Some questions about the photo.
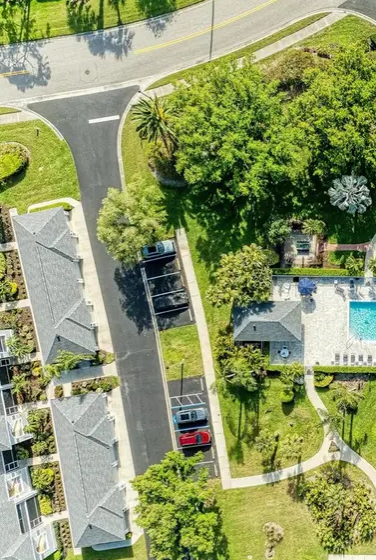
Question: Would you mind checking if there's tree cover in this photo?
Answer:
Yes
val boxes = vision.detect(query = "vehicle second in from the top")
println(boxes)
[155,295,189,312]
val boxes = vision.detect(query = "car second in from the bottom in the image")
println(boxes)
[175,407,208,423]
